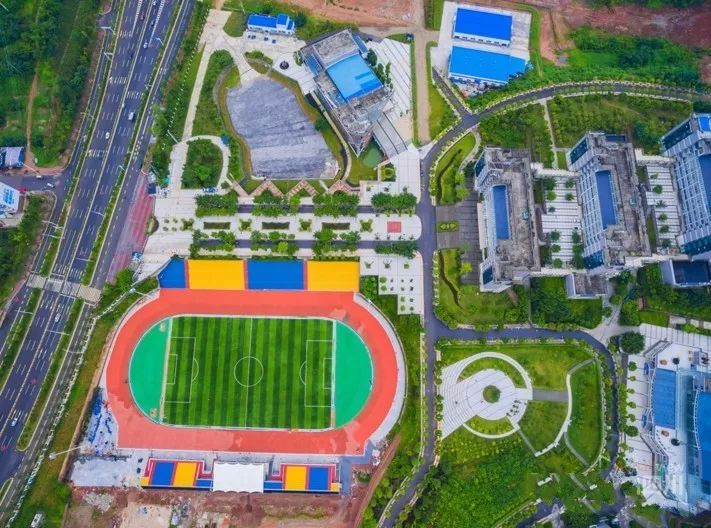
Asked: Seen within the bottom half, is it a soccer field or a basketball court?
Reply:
soccer field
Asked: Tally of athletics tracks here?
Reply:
1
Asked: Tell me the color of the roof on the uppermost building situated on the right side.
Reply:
blue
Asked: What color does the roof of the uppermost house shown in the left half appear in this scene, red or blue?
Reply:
blue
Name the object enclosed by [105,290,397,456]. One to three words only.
running track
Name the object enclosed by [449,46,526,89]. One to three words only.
building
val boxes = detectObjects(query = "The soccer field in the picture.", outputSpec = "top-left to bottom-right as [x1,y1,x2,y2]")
[160,315,335,431]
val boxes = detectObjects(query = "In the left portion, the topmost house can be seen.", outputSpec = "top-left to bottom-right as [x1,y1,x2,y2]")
[248,14,296,35]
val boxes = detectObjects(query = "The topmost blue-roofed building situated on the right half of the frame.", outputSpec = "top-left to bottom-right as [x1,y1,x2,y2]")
[451,6,514,49]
